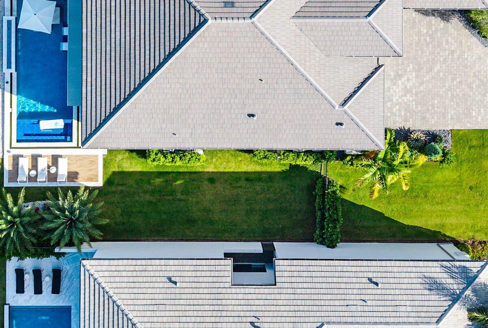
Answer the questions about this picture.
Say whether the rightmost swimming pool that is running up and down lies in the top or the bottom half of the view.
top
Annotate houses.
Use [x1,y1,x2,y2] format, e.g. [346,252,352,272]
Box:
[79,0,488,150]
[79,240,488,328]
